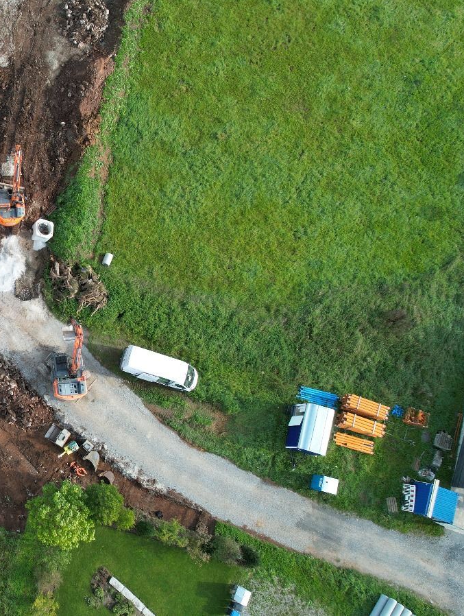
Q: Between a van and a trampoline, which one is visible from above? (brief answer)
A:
van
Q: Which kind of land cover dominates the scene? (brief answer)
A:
grass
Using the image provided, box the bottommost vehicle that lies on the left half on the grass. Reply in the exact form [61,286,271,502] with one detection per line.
[119,344,199,389]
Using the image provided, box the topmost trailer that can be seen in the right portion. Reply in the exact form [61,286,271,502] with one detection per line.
[287,402,332,468]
